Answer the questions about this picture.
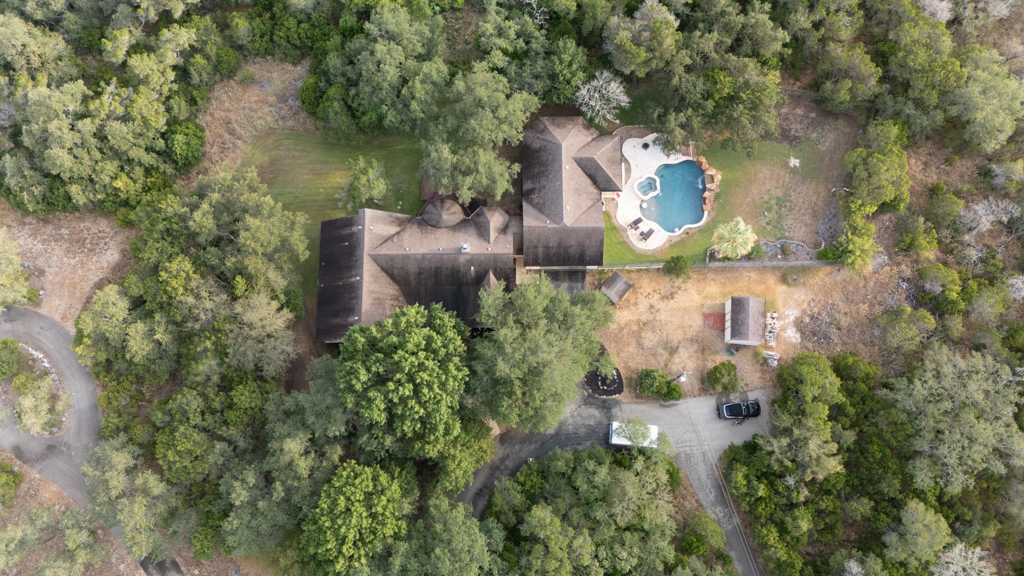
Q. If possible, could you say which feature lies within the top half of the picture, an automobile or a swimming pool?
swimming pool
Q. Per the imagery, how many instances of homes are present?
2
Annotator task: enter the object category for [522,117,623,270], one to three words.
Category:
house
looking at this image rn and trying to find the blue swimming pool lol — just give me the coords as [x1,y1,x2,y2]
[636,156,709,236]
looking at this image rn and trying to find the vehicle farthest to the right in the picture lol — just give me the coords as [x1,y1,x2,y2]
[716,399,761,426]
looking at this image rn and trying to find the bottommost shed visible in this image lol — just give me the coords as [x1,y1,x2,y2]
[725,295,767,344]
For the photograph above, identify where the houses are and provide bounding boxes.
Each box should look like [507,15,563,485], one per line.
[314,195,514,343]
[522,117,623,270]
